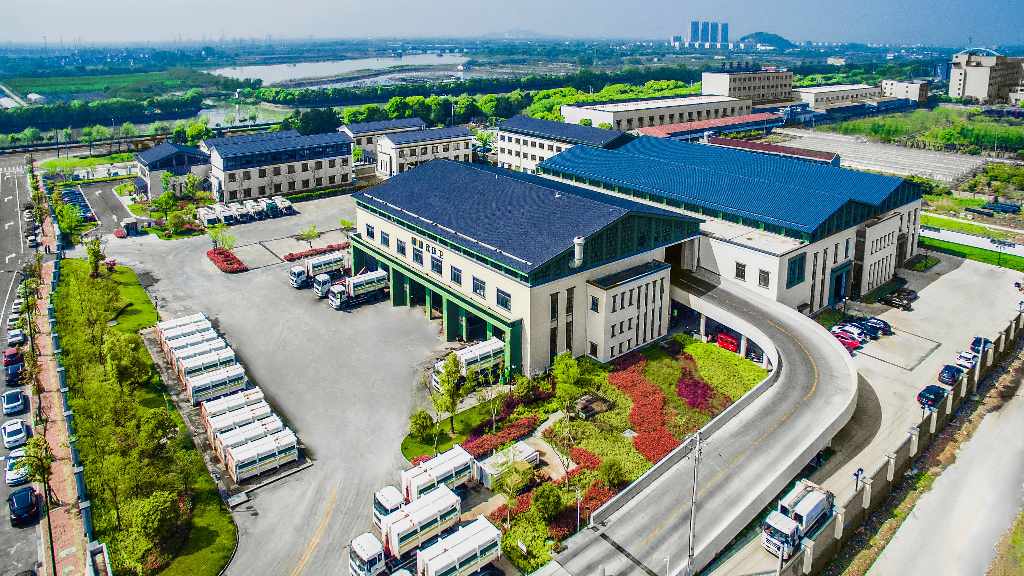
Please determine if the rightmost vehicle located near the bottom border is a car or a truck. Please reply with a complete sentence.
From above, the rightmost vehicle located near the bottom border can be identified as a truck.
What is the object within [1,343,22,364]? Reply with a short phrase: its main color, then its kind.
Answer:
red car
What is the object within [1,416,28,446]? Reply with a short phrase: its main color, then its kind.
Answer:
white car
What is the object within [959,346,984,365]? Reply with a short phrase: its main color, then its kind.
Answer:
white car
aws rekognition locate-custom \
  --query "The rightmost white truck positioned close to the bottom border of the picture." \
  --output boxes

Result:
[749,477,830,566]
